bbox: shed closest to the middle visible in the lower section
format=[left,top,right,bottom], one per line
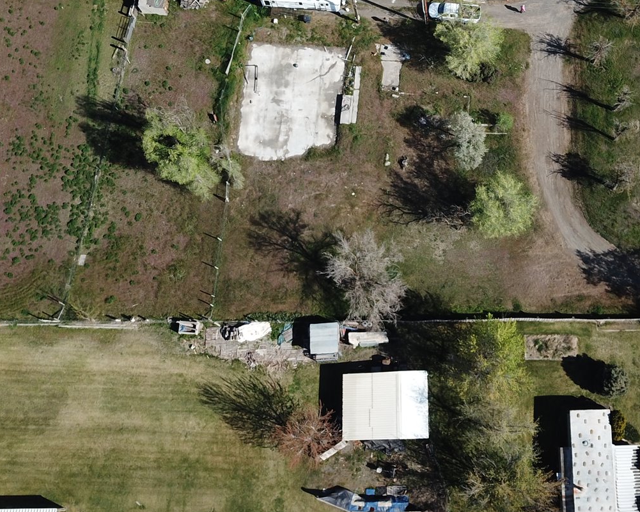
[309,323,340,355]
